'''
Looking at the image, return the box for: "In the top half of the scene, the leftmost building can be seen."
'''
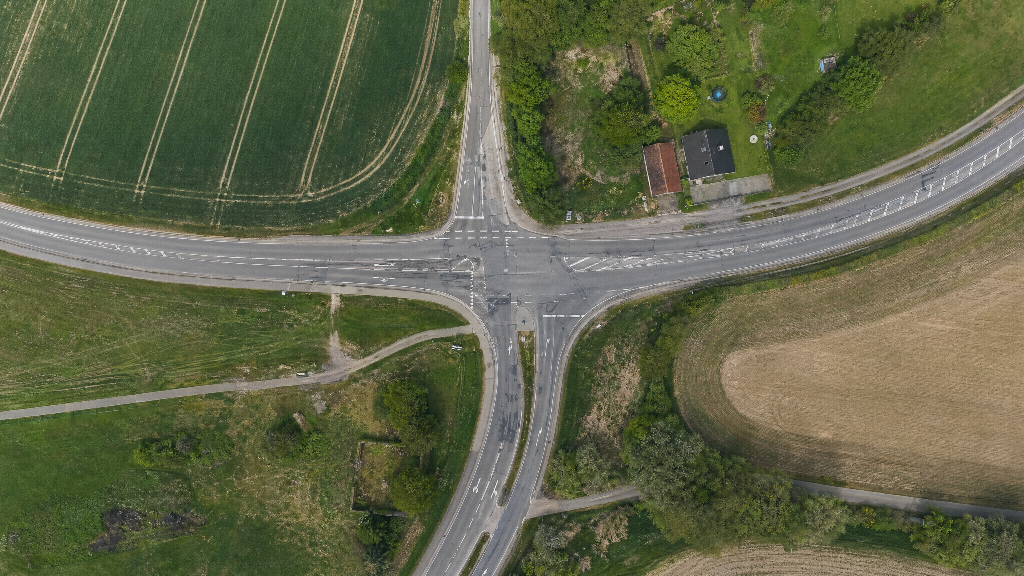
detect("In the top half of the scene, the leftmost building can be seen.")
[643,142,682,197]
